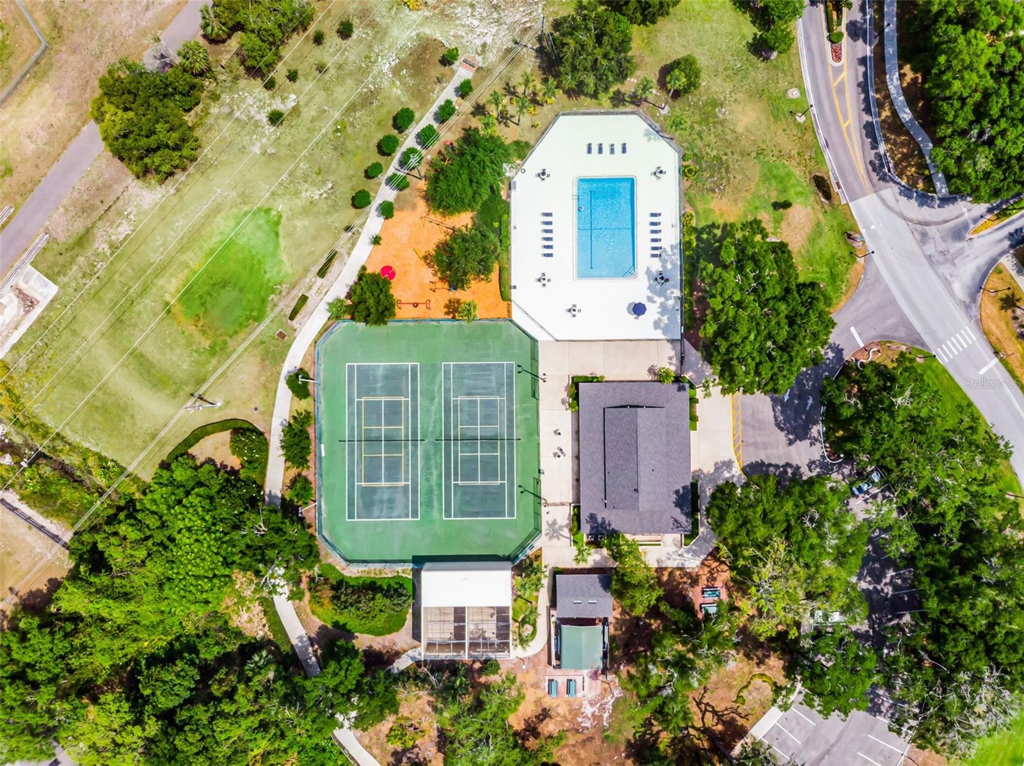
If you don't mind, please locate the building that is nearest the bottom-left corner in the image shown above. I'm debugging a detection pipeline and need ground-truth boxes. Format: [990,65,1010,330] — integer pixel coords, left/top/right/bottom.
[420,559,511,660]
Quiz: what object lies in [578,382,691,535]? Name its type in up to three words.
building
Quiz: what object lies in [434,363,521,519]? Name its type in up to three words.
tennis court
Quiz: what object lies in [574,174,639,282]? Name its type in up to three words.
swimming pool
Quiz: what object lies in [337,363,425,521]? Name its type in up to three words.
tennis court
